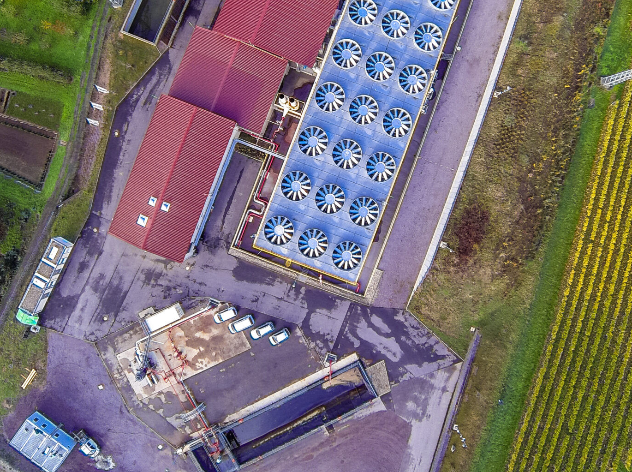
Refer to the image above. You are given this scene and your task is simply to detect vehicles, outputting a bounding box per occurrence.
[268,328,292,346]
[249,322,276,340]
[211,307,238,324]
[69,422,101,464]
[226,315,256,335]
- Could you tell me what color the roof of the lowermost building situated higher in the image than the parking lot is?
red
